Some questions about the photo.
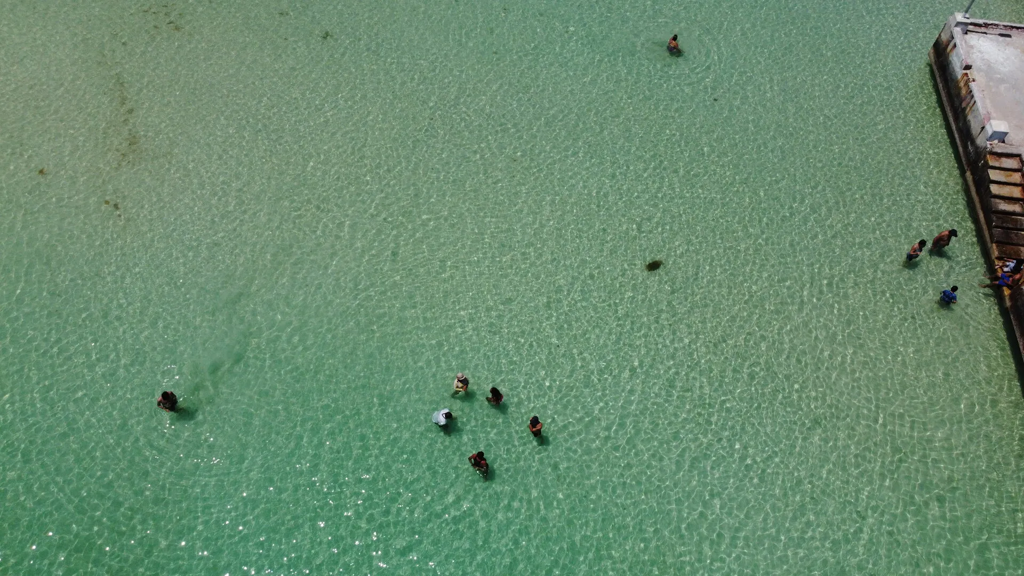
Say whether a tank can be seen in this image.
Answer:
No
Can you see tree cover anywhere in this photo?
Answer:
No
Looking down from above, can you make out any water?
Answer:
Yes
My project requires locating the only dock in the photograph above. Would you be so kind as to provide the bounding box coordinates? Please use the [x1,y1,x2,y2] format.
[927,11,1024,370]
